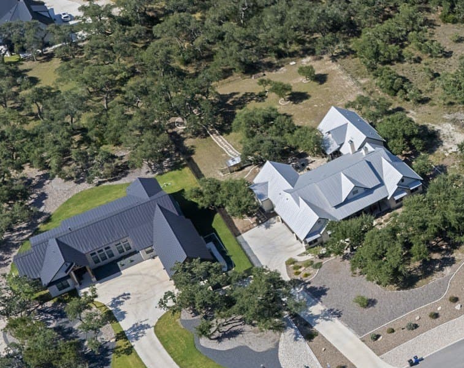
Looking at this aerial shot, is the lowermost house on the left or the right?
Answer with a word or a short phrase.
left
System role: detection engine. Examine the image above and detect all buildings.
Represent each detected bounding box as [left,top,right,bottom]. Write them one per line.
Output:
[249,106,425,247]
[0,0,57,53]
[218,150,242,171]
[11,178,214,297]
